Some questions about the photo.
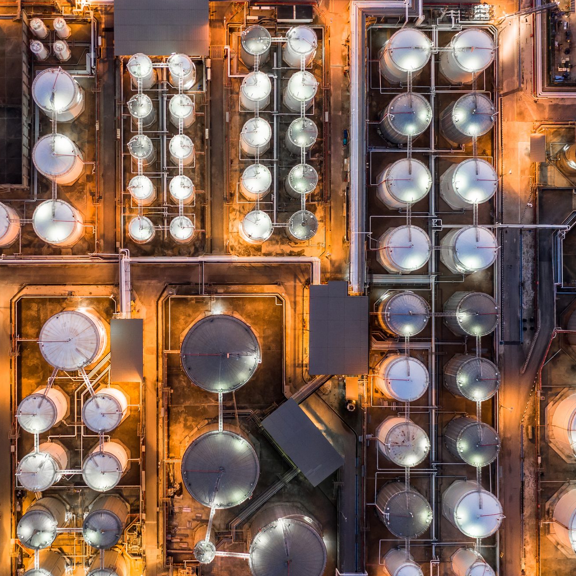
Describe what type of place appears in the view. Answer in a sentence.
This looks like an industrial area.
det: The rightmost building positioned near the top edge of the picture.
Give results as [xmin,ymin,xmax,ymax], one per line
[277,5,313,24]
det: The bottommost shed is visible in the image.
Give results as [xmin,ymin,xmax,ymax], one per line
[261,399,344,486]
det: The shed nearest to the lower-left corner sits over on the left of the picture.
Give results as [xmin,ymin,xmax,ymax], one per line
[110,318,145,381]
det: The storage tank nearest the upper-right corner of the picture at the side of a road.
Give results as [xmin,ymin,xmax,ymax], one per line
[440,26,497,84]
